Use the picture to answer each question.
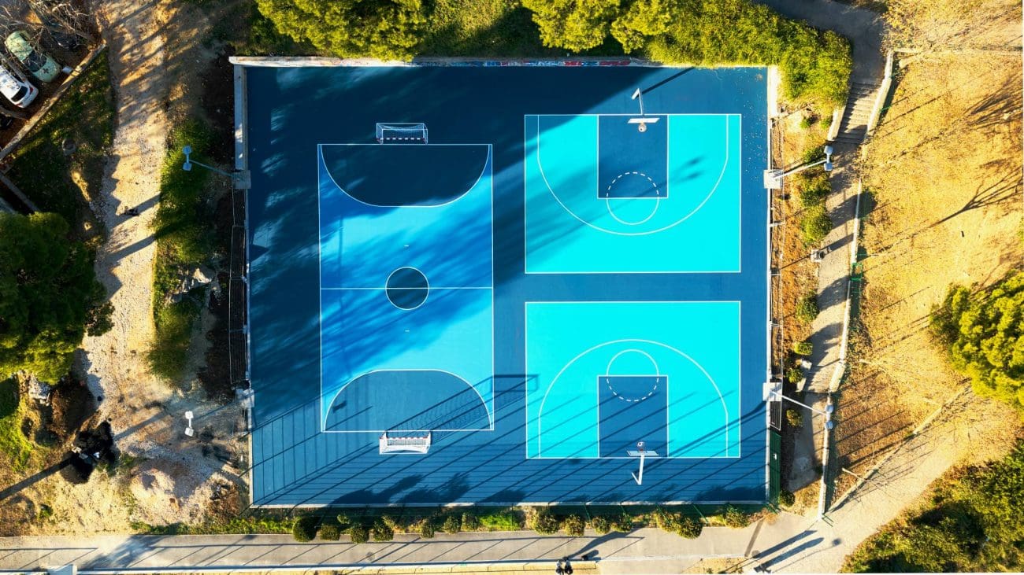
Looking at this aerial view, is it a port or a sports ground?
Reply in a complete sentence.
The area seen from above is a sports ground.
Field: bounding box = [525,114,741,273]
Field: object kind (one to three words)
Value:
basketball court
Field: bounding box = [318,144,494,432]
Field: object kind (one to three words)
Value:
soccer field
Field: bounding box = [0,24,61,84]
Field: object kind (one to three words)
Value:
car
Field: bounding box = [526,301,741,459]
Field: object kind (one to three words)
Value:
basketball court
